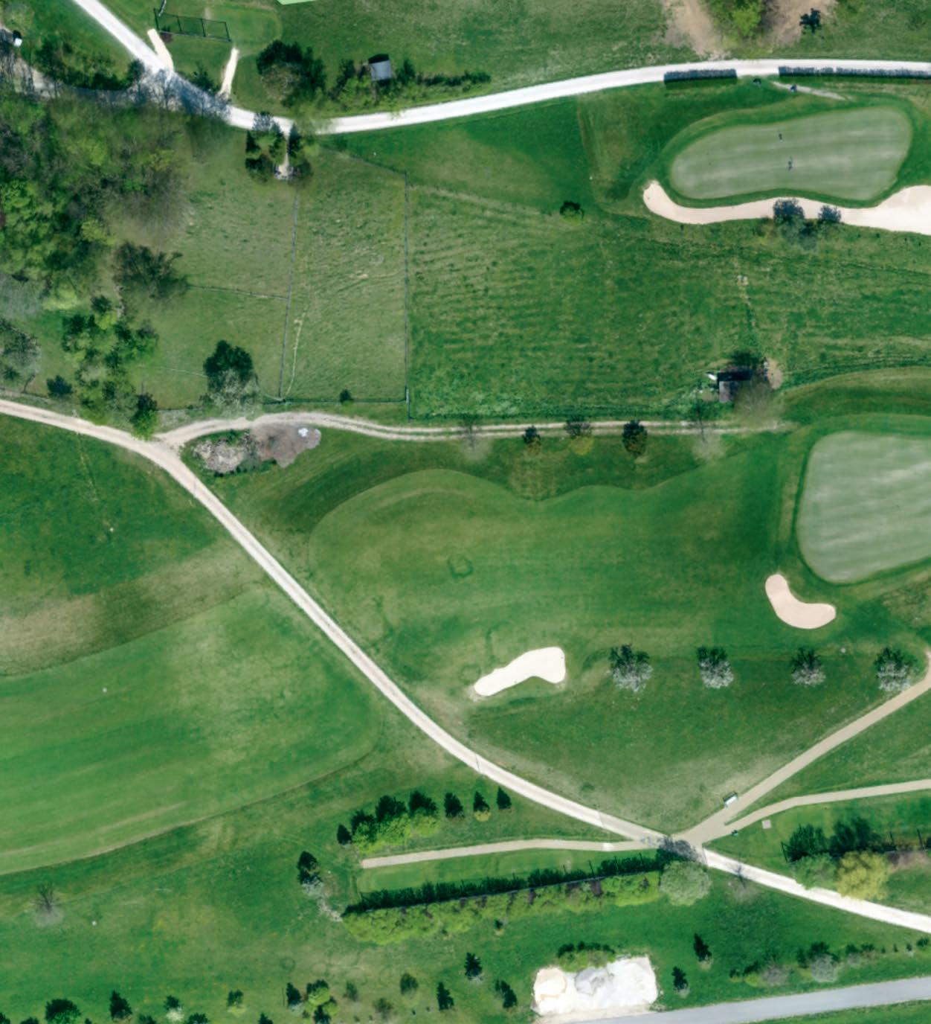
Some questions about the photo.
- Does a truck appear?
No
